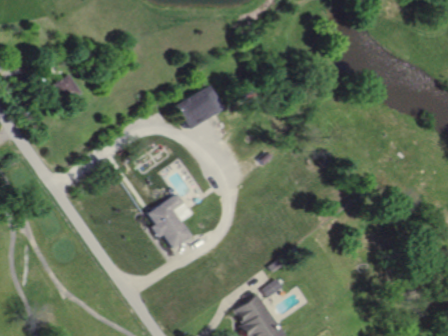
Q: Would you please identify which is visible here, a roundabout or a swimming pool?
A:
swimming pool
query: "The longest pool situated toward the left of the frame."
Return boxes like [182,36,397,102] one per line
[158,160,200,206]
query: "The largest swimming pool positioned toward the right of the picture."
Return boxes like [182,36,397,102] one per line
[262,287,307,323]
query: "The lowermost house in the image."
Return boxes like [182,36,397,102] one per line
[232,295,285,336]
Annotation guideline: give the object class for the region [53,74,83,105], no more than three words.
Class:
house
